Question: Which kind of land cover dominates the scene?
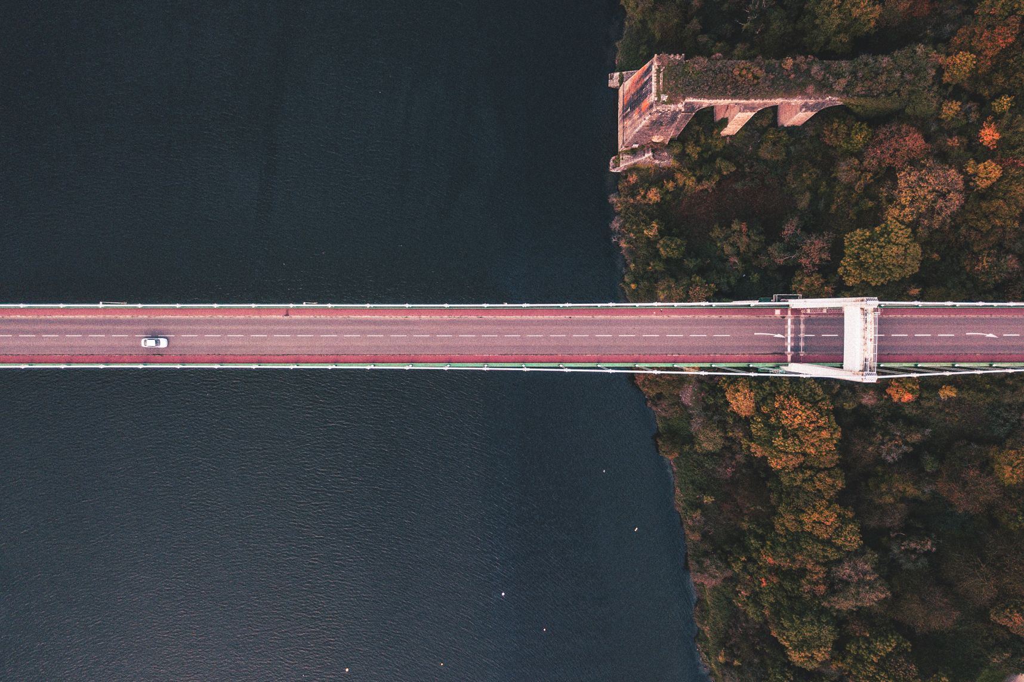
water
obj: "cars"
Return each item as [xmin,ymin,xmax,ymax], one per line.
[140,337,167,349]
